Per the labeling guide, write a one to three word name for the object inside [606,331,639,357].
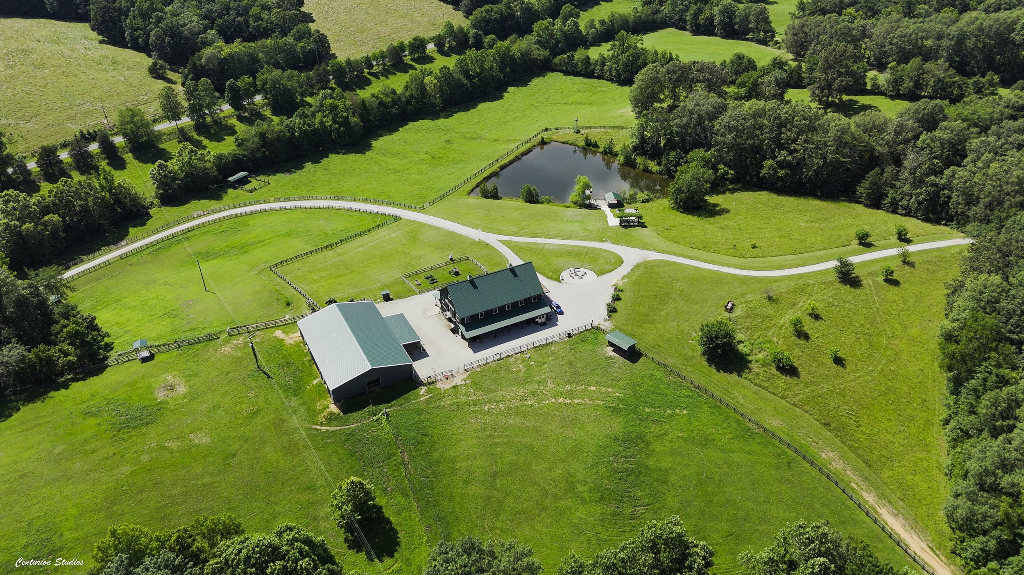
shed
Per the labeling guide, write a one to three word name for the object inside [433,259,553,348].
house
